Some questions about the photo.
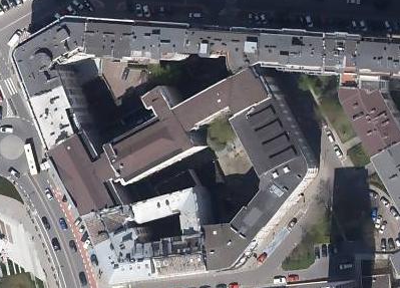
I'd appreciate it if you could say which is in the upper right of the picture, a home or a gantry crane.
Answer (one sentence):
What appears in the upper right of the picture is a home.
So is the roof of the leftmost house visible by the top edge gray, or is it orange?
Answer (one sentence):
From above, the roof of the leftmost house visible by the top edge appears gray.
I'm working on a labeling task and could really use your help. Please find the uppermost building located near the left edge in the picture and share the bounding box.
[12,11,93,97]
